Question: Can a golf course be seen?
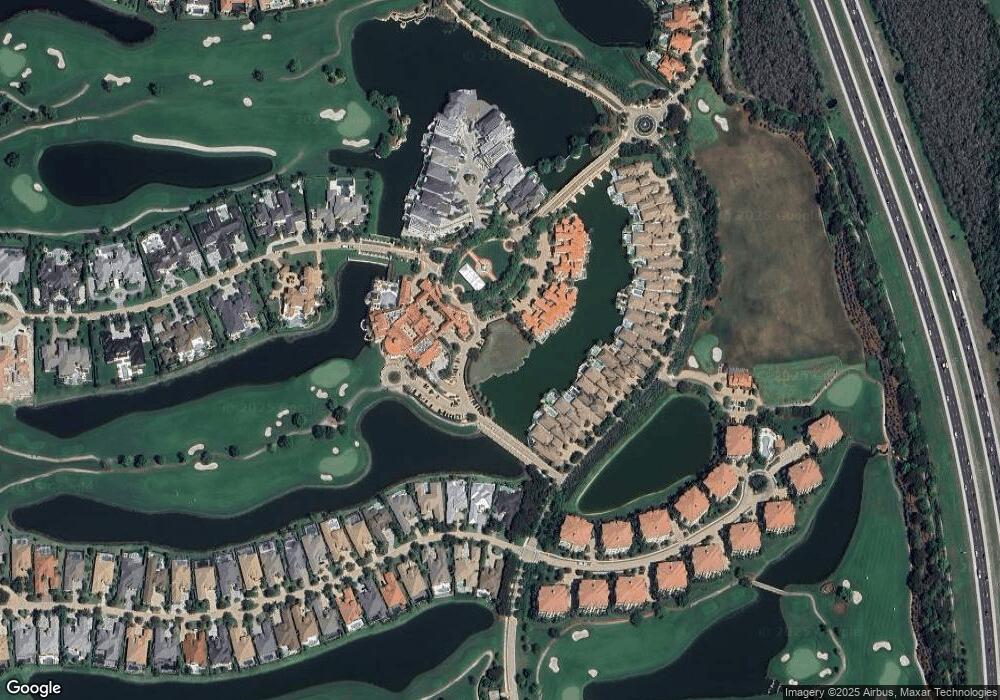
Yes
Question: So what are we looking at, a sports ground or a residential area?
residential area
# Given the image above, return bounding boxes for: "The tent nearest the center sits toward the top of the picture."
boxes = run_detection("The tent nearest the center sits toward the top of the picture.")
[459,264,485,291]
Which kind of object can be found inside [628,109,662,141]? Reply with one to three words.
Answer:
roundabout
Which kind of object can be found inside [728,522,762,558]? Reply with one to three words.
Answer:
building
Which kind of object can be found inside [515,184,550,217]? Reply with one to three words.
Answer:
house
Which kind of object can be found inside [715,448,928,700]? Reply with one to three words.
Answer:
golf course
